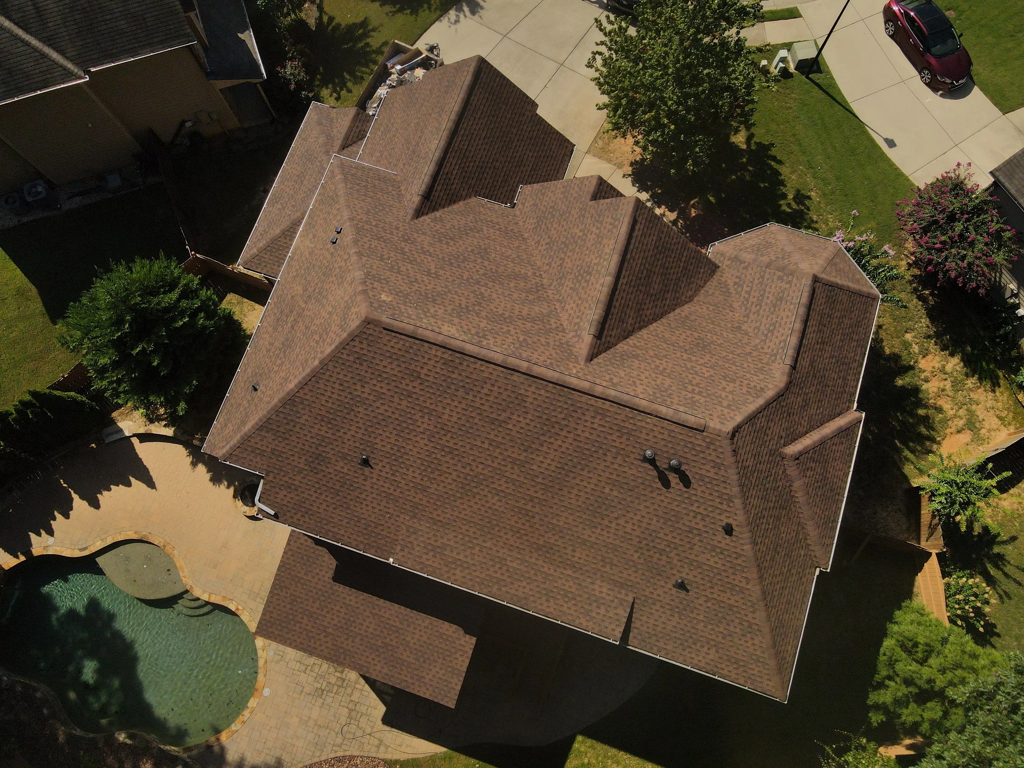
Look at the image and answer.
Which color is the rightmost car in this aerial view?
black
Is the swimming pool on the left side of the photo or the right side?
left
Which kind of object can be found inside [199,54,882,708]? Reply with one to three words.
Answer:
house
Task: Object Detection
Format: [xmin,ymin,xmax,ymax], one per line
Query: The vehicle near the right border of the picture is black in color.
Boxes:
[880,0,974,93]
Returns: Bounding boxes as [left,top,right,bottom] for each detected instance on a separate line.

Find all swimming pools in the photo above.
[0,531,267,757]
